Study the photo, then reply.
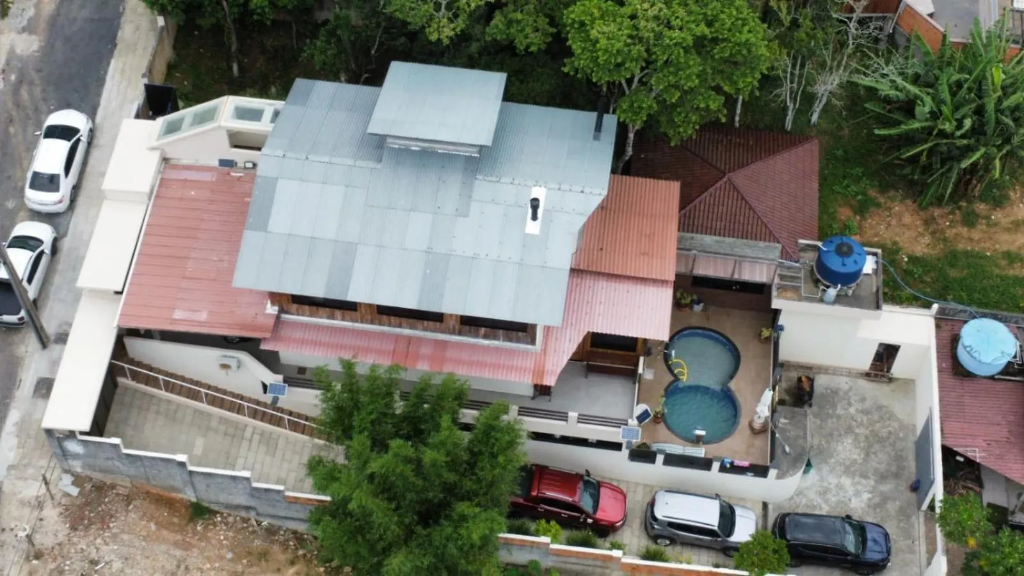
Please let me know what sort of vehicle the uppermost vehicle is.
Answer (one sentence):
Looking closely, the uppermost vehicle is an automobile.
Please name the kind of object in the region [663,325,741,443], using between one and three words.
swimming pool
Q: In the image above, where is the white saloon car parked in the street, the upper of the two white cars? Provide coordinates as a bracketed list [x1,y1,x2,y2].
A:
[20,114,92,215]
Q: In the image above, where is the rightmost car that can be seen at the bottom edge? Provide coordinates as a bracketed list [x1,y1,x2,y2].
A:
[770,503,895,576]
